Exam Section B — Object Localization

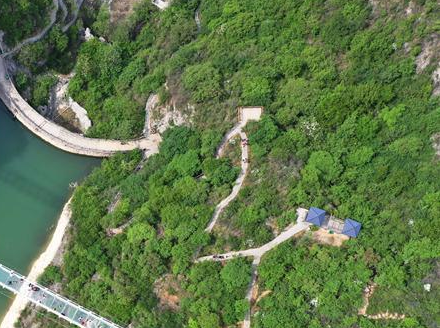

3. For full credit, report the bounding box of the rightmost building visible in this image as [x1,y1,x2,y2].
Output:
[336,218,361,237]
